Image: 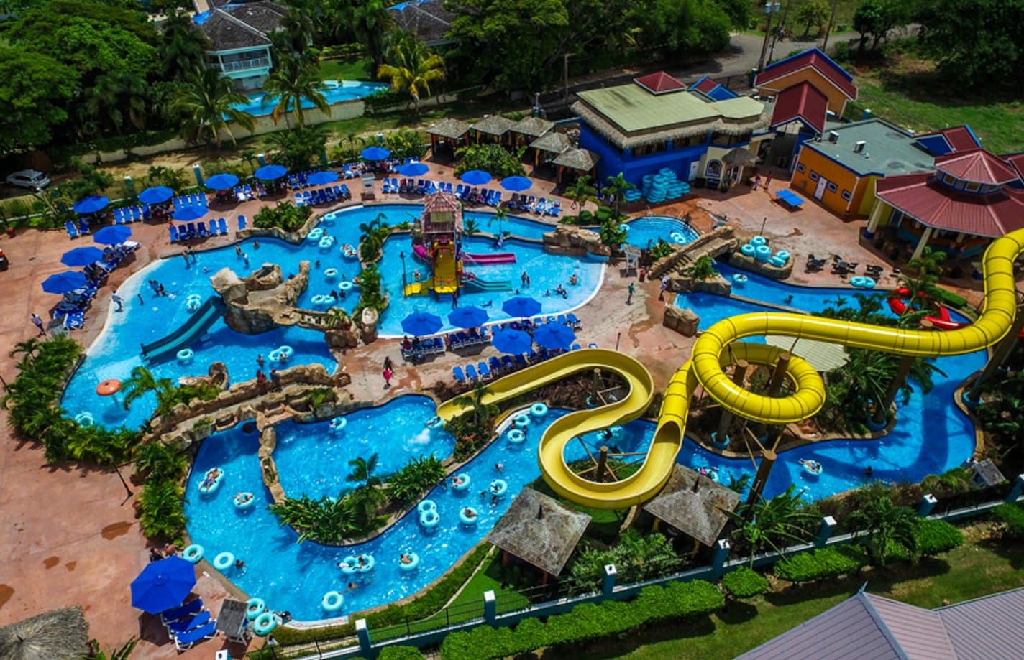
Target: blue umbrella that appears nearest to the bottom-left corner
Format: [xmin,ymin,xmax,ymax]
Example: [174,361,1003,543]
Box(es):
[127,563,197,622]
